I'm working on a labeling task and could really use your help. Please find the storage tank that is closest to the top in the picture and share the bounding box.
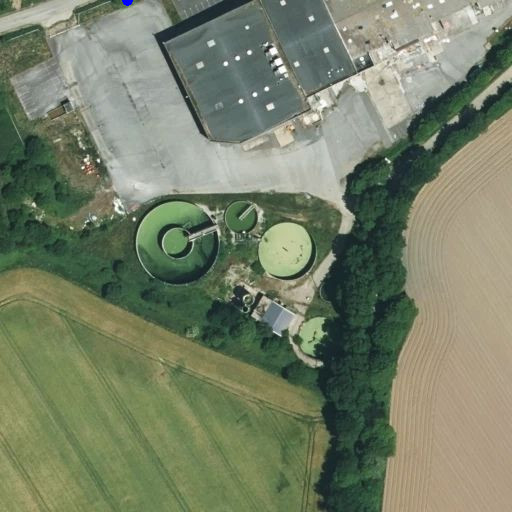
[224,200,257,232]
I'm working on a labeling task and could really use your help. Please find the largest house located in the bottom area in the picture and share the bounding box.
[260,300,297,338]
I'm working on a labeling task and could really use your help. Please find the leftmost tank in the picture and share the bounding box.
[136,201,221,285]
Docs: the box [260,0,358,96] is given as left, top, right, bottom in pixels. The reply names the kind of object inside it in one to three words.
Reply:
building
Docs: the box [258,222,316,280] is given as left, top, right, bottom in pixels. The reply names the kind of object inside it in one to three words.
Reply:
storage tank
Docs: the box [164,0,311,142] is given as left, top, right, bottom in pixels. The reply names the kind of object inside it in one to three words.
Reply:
building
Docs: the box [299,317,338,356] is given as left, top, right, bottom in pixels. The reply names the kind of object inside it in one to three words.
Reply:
storage tank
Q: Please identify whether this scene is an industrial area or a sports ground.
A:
industrial area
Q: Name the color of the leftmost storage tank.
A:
green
